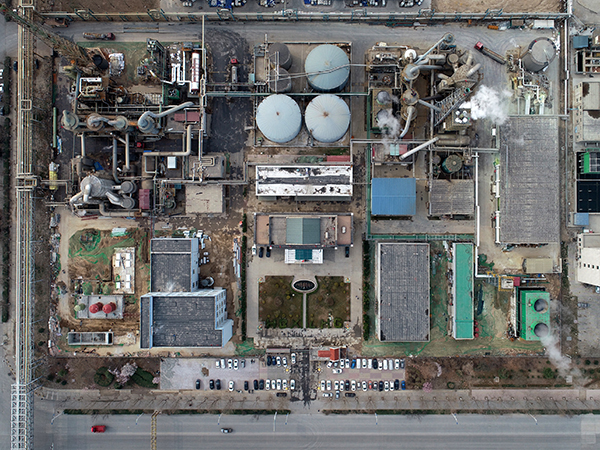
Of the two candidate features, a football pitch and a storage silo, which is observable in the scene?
storage silo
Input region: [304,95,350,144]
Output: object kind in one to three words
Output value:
storage tank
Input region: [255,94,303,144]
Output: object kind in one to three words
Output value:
storage tank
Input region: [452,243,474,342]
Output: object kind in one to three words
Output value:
shed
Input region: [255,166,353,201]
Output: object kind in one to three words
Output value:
building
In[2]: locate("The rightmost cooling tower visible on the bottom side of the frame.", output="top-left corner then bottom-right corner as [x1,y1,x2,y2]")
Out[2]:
[515,285,551,342]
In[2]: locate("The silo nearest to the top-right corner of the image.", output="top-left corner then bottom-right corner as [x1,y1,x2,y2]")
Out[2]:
[517,34,563,75]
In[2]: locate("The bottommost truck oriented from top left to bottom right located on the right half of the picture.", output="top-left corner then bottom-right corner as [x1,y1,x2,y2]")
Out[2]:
[473,41,508,65]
